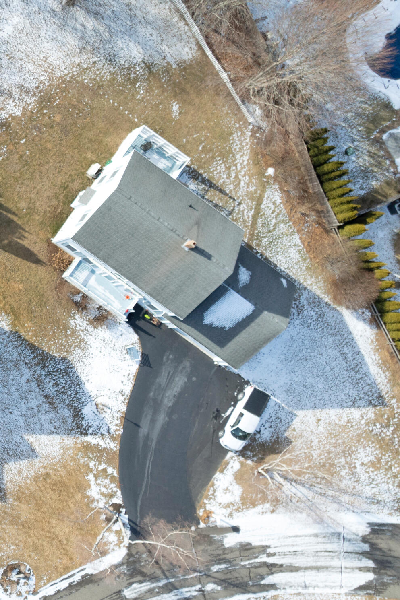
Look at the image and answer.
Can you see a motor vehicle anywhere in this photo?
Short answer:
Yes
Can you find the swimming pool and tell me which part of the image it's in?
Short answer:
top right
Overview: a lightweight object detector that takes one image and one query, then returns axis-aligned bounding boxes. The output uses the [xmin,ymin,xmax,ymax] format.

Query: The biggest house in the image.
[54,150,297,369]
